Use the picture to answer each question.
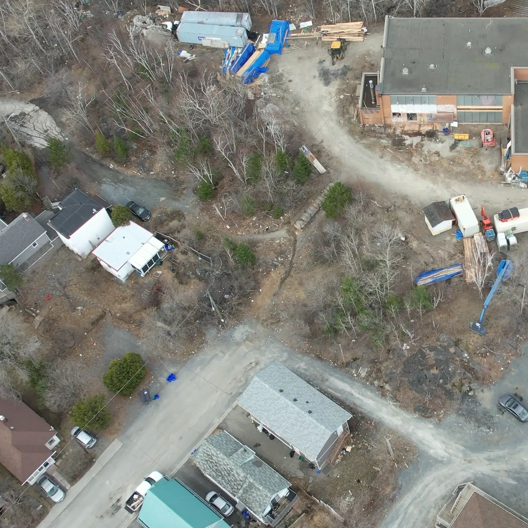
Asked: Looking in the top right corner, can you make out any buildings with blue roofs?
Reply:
No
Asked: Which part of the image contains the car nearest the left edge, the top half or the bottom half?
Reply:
bottom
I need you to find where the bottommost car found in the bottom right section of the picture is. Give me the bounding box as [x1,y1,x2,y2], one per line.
[496,391,528,429]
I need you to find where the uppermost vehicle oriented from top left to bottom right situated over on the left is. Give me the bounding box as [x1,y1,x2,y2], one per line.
[124,199,155,225]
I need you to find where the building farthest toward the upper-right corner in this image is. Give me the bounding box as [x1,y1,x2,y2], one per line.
[360,16,528,171]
